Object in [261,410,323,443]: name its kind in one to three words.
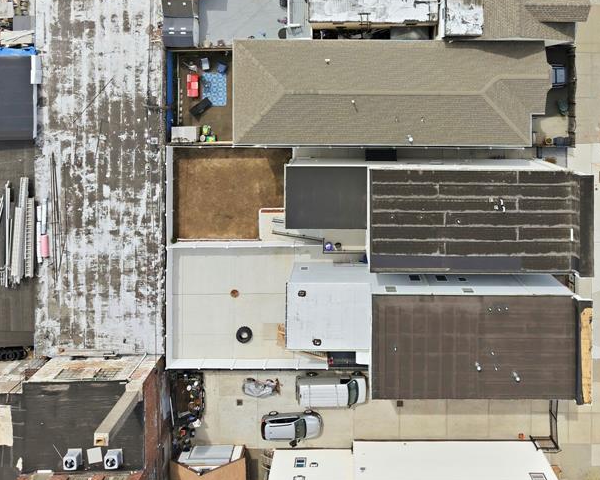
car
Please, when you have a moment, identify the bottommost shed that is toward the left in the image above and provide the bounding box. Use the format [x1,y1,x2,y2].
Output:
[170,431,249,480]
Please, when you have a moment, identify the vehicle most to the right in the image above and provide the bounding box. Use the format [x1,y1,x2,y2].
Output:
[295,373,366,409]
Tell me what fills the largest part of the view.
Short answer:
buildings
